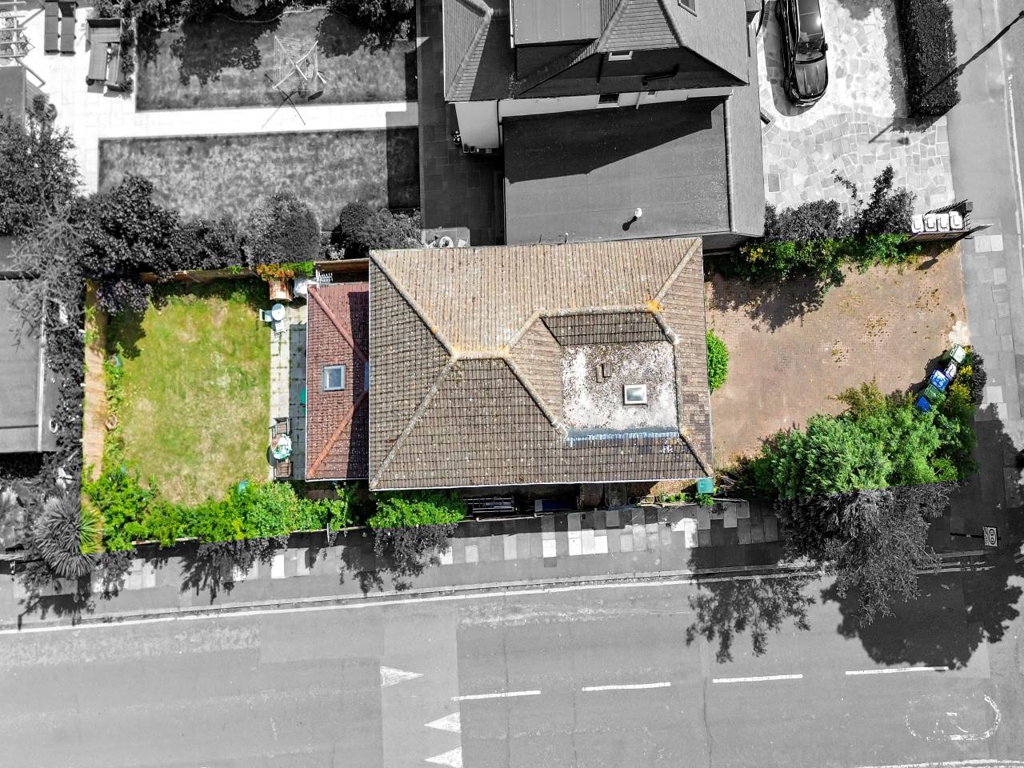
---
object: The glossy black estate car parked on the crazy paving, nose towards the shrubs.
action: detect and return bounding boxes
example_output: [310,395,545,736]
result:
[779,0,838,106]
